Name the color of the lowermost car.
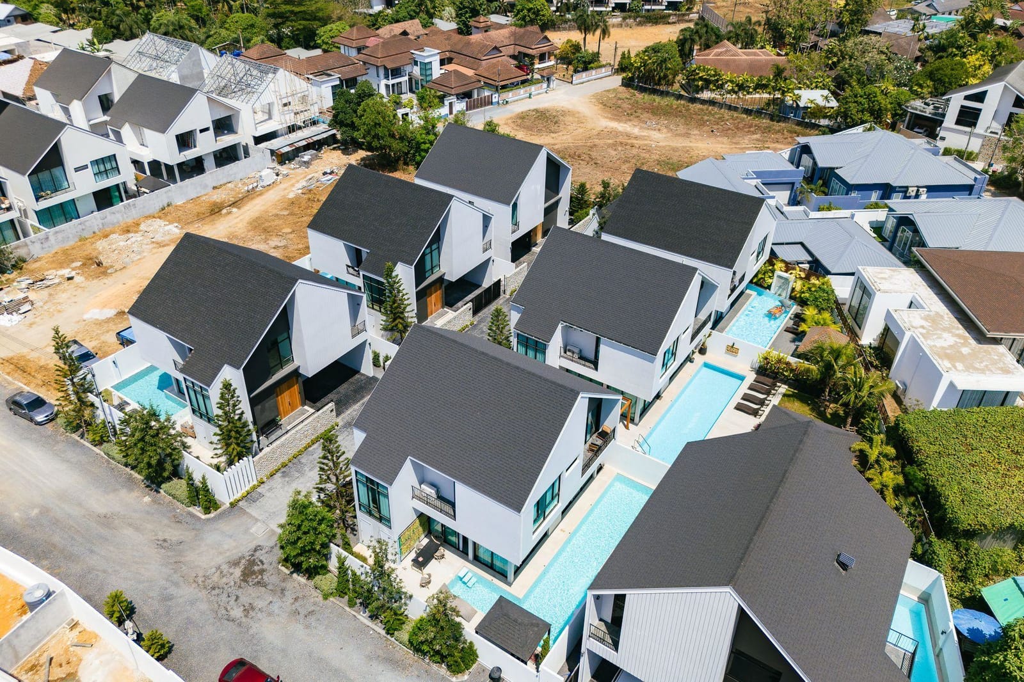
red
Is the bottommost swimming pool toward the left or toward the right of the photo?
right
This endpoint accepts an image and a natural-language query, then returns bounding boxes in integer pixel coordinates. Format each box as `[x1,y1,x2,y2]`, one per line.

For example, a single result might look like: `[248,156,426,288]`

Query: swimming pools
[441,472,653,659]
[723,292,797,347]
[108,365,194,429]
[890,593,943,682]
[632,360,749,467]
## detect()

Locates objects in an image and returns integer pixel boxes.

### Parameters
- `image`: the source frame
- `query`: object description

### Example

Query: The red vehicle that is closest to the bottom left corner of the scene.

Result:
[215,656,278,682]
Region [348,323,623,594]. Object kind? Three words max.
house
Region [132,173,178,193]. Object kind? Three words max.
gazebo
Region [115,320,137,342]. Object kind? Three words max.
truck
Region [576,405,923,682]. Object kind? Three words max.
house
